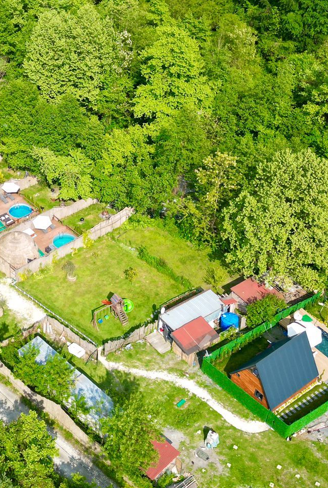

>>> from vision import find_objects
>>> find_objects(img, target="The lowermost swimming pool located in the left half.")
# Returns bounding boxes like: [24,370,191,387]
[51,230,75,249]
